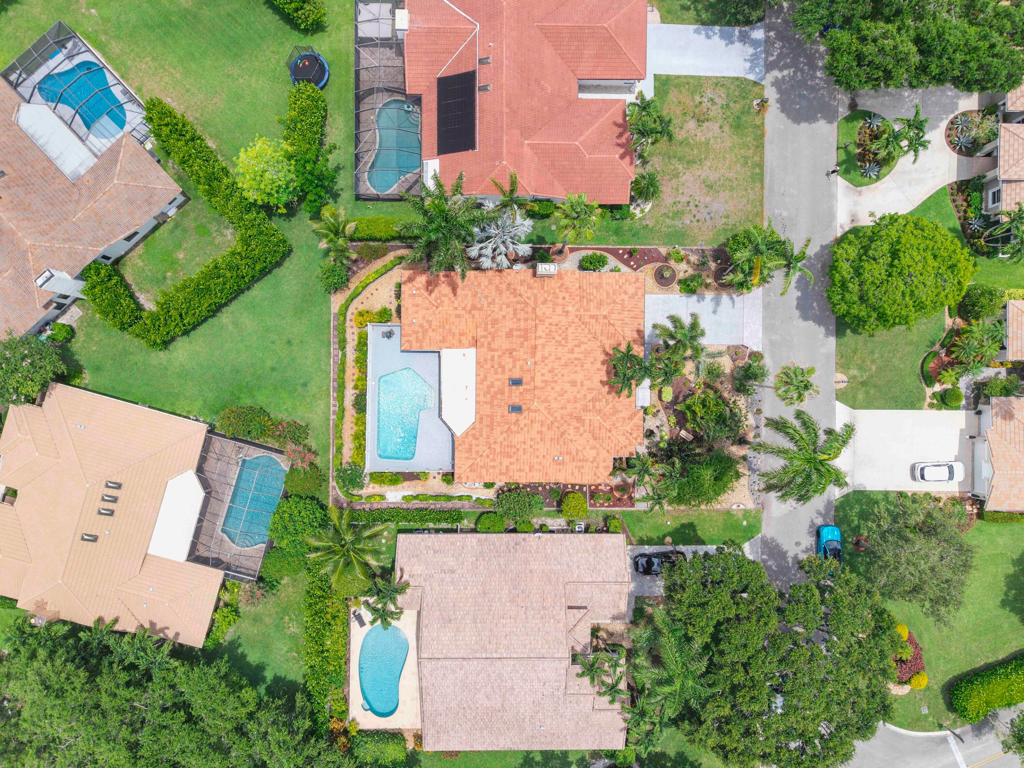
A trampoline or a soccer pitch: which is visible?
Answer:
trampoline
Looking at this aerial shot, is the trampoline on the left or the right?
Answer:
left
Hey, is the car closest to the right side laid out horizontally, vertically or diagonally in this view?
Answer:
horizontally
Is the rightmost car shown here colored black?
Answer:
No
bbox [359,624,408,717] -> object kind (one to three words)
swimming pool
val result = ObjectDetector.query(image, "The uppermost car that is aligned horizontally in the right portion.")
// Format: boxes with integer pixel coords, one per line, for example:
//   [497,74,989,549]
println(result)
[909,460,964,485]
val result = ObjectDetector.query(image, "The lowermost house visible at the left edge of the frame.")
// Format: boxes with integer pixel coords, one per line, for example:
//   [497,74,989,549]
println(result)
[0,384,230,649]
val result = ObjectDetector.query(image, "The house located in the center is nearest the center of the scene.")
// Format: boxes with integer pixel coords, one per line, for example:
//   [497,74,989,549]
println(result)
[400,263,646,484]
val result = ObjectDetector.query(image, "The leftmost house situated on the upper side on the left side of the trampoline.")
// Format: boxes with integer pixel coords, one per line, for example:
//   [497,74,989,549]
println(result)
[0,73,185,364]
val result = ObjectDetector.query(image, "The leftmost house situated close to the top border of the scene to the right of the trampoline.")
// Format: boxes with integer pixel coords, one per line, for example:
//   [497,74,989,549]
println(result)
[395,0,649,206]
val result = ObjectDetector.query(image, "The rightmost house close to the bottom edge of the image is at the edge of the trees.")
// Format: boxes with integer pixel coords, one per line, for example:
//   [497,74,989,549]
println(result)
[398,532,632,752]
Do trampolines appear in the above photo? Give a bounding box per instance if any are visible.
[285,46,331,91]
